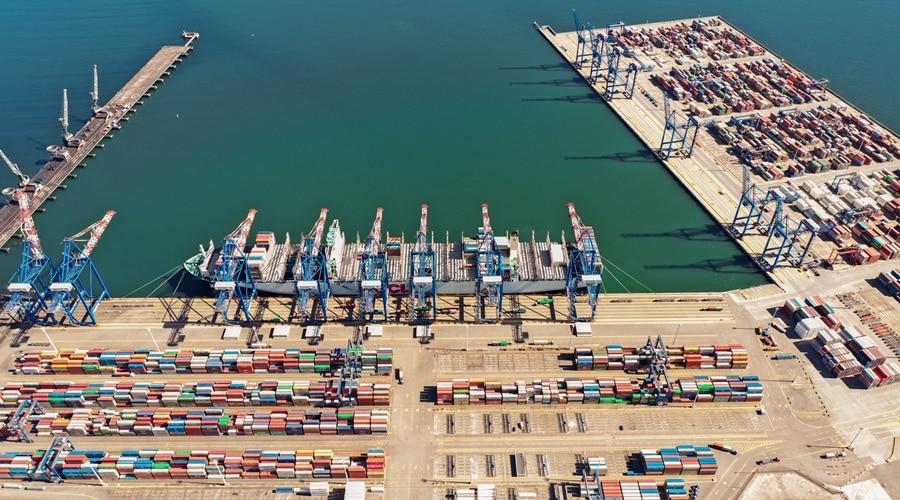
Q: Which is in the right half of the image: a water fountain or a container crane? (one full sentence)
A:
The feature located in the right half of the image is a container crane.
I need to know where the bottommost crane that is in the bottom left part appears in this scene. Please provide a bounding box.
[34,437,78,485]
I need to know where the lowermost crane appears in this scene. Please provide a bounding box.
[577,465,605,500]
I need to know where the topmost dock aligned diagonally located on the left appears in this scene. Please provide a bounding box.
[0,34,203,251]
